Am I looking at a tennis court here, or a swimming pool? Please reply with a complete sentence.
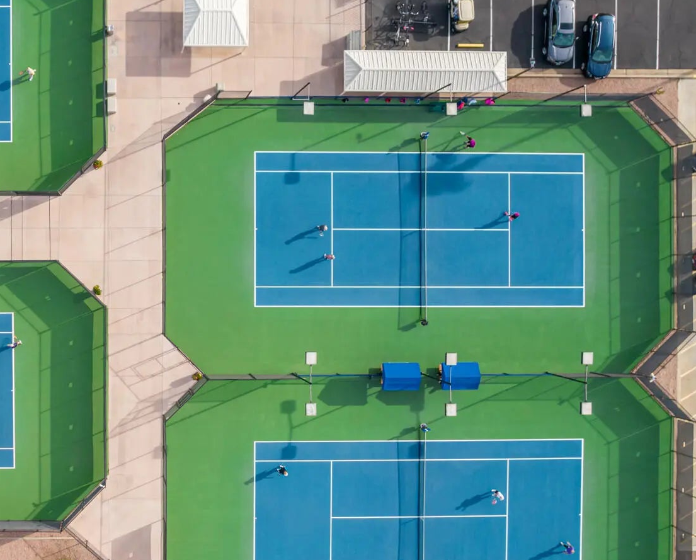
Looking from above, you can make out a tennis court.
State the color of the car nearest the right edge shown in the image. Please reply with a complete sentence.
From above, the car nearest the right edge appears blue.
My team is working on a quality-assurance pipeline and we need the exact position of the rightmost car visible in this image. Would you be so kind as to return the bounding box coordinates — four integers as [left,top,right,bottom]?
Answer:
[581,11,618,79]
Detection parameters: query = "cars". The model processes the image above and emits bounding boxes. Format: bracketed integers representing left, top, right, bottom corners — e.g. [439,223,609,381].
[581,11,618,79]
[542,0,580,64]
